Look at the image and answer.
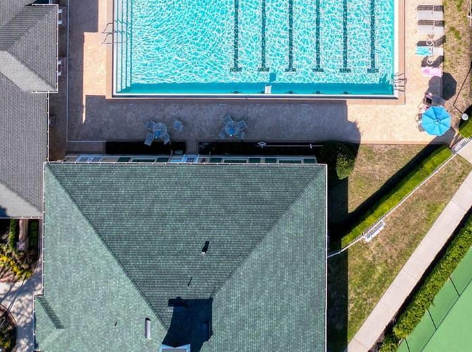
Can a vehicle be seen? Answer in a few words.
No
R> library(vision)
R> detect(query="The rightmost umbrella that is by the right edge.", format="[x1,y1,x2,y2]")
[418,103,453,137]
